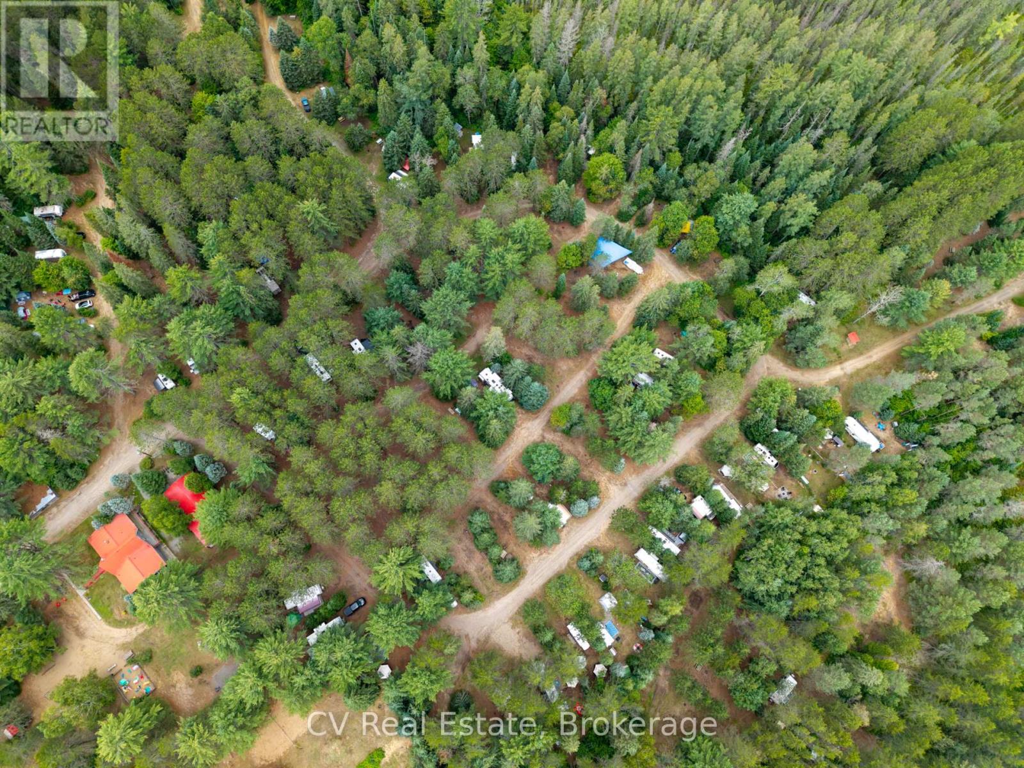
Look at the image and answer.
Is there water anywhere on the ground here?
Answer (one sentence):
No, water can't be seen anywhere here.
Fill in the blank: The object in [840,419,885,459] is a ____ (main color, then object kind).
white trailer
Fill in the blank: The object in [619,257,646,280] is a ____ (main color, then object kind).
white camper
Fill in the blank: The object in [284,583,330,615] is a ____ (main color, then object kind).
white trailer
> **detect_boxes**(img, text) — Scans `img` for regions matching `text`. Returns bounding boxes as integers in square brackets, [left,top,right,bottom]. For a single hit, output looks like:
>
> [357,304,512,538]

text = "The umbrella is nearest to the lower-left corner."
[286,611,301,626]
